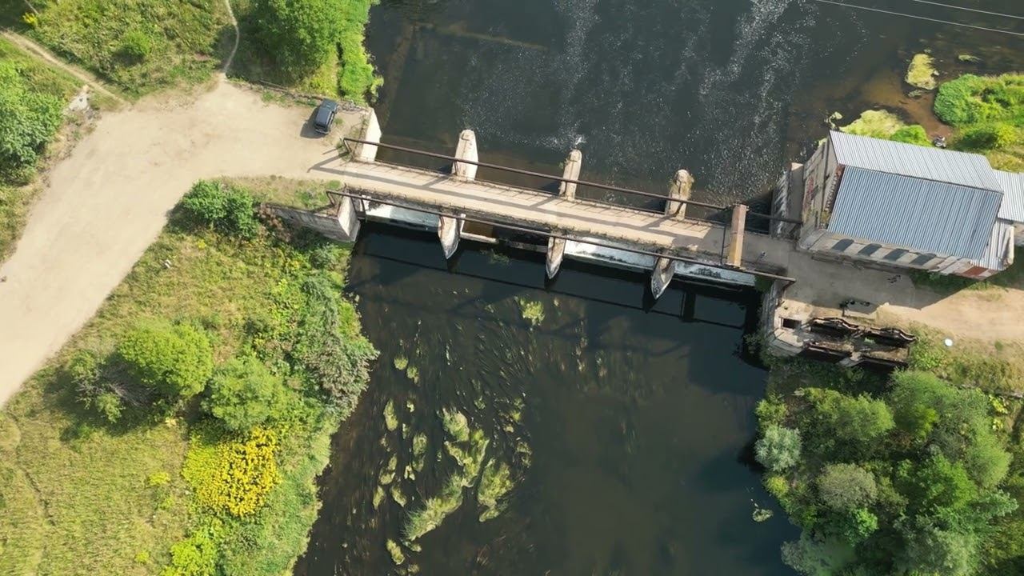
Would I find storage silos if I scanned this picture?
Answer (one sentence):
No, there isn't any storage silo down there.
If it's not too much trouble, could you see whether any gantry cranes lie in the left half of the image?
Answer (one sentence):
No, I can find no gantry crane in the left half of the image.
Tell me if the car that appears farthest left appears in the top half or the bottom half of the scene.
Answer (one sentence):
The car that appears farthest left sits in the top half of the picture.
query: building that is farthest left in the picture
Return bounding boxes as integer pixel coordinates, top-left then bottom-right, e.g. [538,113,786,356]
[803,130,1003,284]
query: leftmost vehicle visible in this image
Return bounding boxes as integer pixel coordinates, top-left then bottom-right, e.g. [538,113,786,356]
[313,99,336,132]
